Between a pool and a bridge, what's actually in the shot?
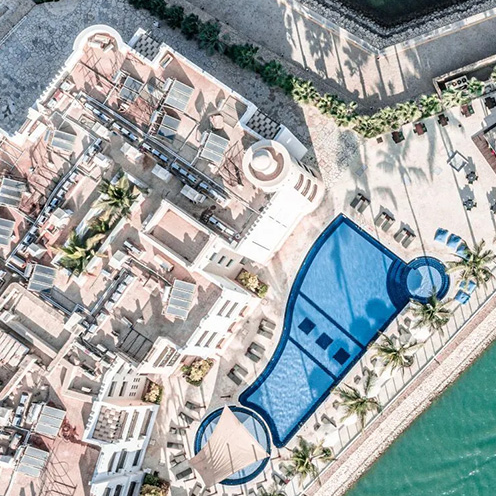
pool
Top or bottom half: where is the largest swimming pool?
bottom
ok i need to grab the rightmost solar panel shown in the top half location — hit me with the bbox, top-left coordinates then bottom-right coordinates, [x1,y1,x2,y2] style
[199,130,233,165]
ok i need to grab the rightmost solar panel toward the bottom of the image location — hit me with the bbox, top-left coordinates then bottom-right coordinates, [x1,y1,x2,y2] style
[162,279,199,320]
